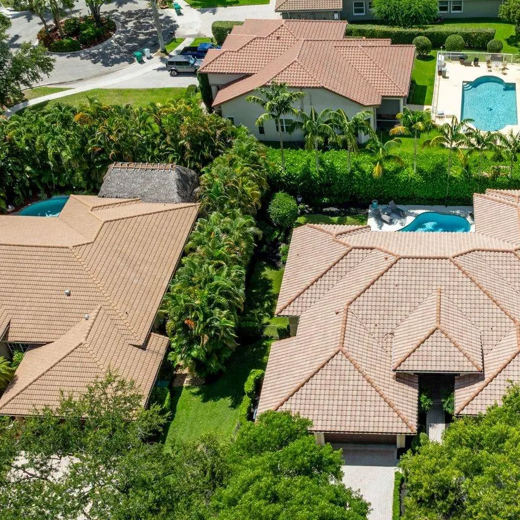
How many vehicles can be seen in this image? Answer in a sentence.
In total, 2 vehicles can be seen.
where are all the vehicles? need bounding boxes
[173,35,219,57]
[160,52,203,78]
